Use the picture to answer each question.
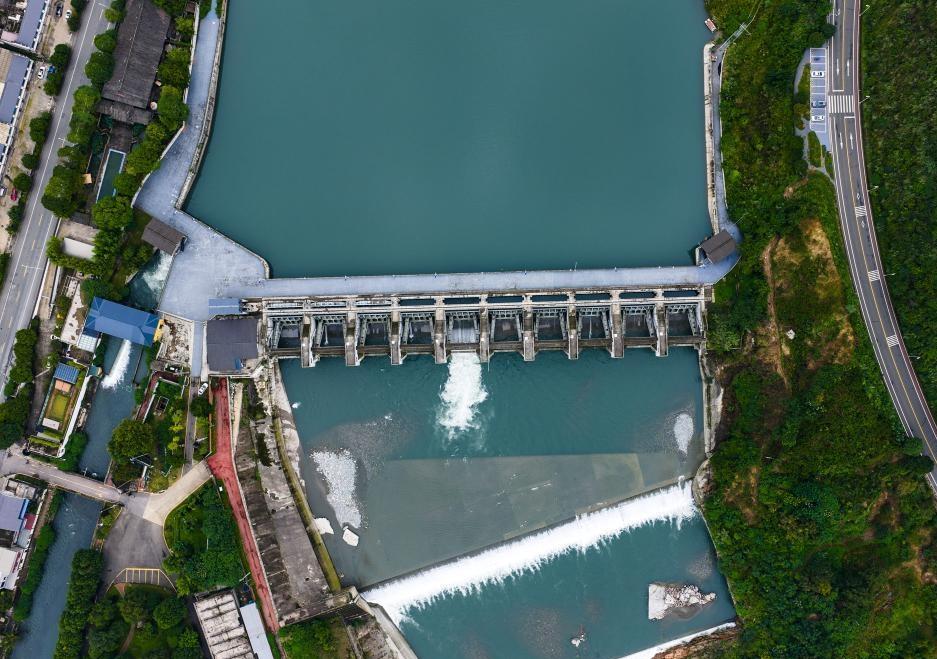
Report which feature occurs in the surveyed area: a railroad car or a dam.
dam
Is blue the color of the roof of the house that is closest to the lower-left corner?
No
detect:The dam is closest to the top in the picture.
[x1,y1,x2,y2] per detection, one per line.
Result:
[247,267,721,367]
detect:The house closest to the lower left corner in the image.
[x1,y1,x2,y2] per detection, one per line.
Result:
[0,546,29,590]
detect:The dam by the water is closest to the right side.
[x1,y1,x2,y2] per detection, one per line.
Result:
[620,624,734,659]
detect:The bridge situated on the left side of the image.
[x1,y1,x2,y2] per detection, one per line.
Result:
[0,453,124,507]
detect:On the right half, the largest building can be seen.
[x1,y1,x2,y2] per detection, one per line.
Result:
[698,230,736,263]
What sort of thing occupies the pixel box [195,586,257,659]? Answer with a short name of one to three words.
building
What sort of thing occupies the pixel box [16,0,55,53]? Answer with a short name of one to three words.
house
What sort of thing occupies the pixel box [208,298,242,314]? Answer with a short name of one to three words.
building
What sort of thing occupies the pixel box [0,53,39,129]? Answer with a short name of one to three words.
house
